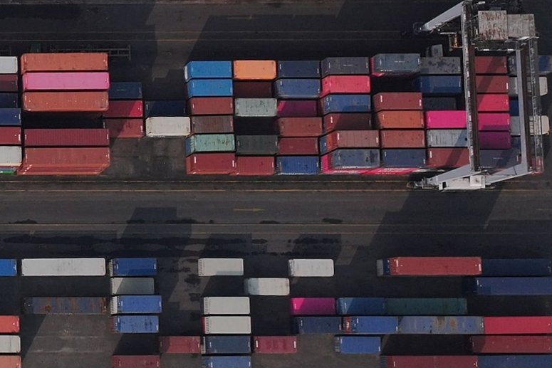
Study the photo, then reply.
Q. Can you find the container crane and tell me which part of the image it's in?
top right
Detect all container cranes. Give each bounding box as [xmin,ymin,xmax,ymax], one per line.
[398,0,543,193]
